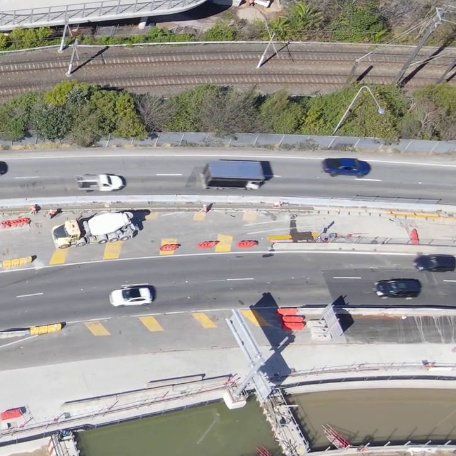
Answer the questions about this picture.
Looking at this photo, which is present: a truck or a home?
truck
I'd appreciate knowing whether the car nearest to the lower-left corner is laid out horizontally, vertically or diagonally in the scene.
horizontally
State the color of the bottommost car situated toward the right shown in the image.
black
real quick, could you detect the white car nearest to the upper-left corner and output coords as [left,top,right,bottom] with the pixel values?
[76,171,126,194]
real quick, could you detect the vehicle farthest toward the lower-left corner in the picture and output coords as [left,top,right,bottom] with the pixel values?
[107,284,158,311]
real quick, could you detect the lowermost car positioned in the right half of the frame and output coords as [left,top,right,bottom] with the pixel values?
[372,278,426,303]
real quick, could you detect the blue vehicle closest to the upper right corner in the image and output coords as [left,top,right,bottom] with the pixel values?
[321,156,373,178]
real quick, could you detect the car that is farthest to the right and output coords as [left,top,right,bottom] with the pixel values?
[408,253,456,277]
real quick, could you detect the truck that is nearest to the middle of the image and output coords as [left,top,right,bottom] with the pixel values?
[202,158,270,190]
